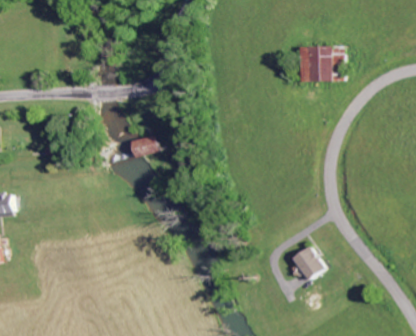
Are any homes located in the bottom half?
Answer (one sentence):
Yes, I can see a home in the bottom half.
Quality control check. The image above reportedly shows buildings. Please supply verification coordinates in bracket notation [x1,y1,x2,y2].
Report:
[0,192,20,218]
[293,246,329,280]
[0,238,12,266]
[302,46,349,84]
[132,136,163,158]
